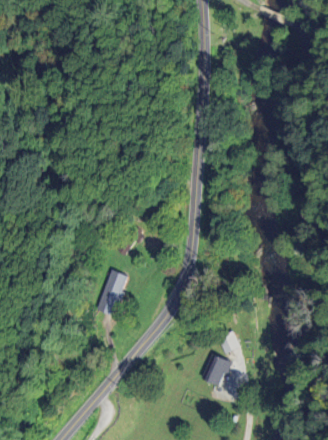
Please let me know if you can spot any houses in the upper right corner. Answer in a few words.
No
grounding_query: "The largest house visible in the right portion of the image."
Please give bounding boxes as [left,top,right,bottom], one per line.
[204,355,234,386]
